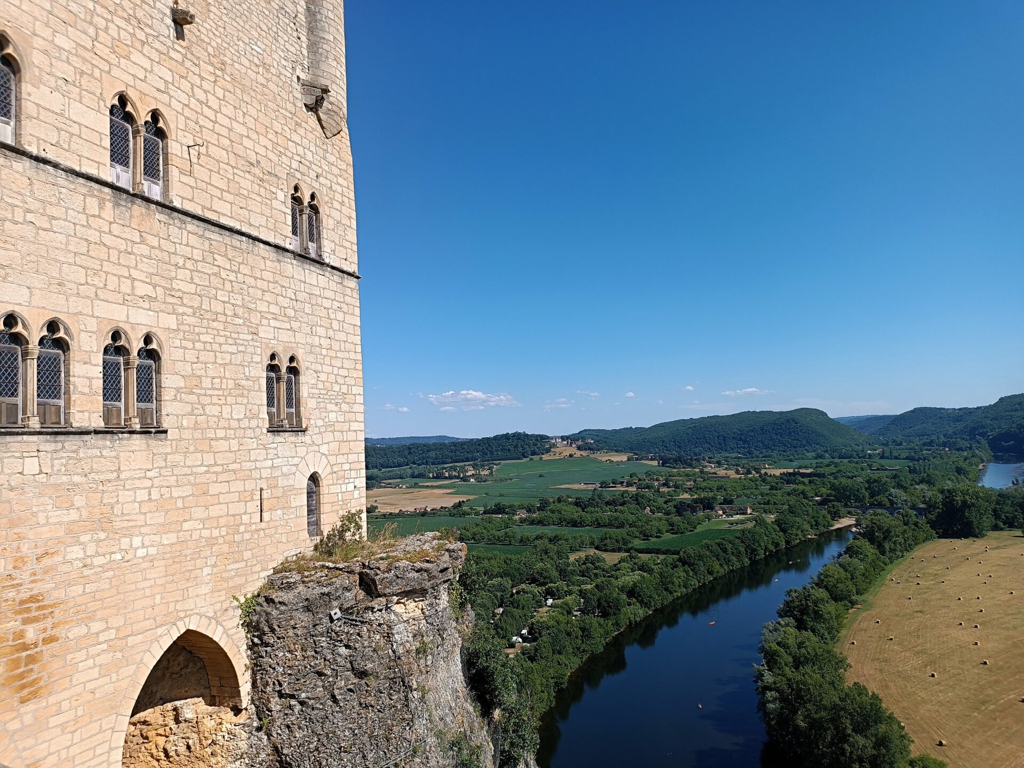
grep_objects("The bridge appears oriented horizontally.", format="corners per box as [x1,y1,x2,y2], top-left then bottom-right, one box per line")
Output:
[744,503,922,524]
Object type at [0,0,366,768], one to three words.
building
